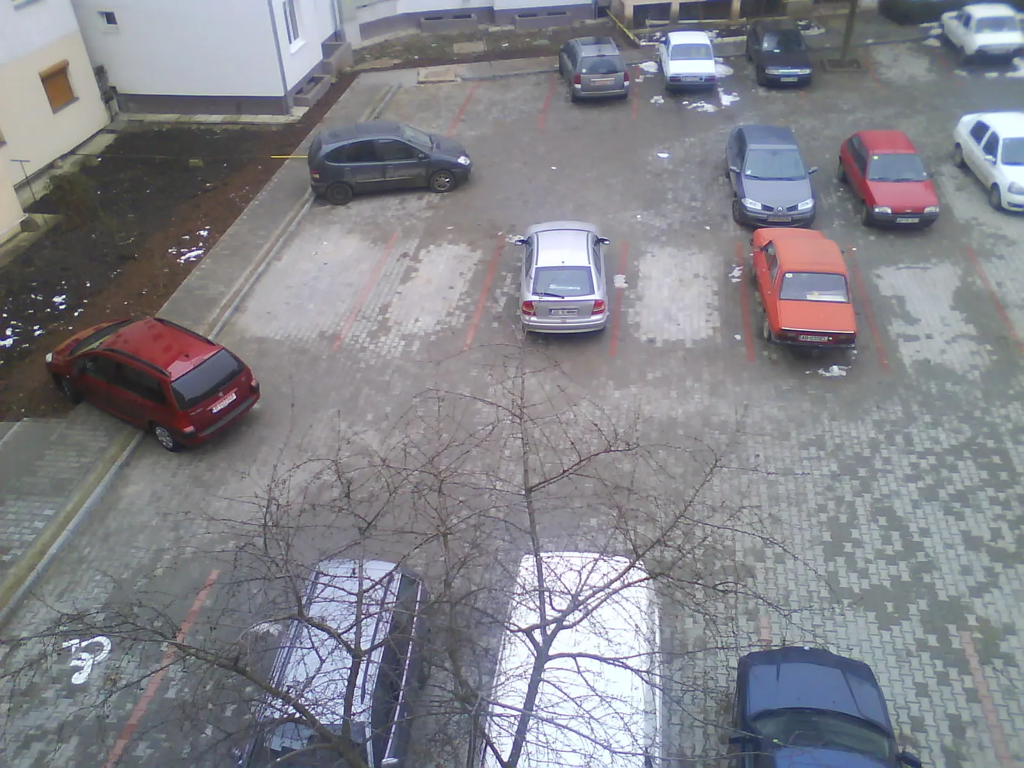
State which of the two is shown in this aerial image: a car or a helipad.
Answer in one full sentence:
Visible in the photo is a car.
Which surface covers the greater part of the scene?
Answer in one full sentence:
For the most part, this view shows paved ground.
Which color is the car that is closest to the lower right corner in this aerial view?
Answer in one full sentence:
The color of the car that is closest to the lower right corner is blue.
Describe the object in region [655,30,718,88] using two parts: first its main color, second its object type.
white car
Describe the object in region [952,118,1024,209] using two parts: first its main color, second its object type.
white car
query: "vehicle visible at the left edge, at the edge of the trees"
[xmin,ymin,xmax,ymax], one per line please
[49,318,263,455]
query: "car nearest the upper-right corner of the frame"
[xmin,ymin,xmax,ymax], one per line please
[936,5,1024,60]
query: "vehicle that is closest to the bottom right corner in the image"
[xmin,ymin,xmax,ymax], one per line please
[727,650,922,768]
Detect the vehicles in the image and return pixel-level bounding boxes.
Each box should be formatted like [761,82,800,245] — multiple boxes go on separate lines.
[936,5,1024,60]
[720,126,816,226]
[952,118,1024,209]
[727,650,922,768]
[746,227,861,351]
[838,135,942,227]
[312,125,465,205]
[555,32,627,101]
[655,30,718,88]
[49,318,263,455]
[748,22,817,85]
[519,222,612,331]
